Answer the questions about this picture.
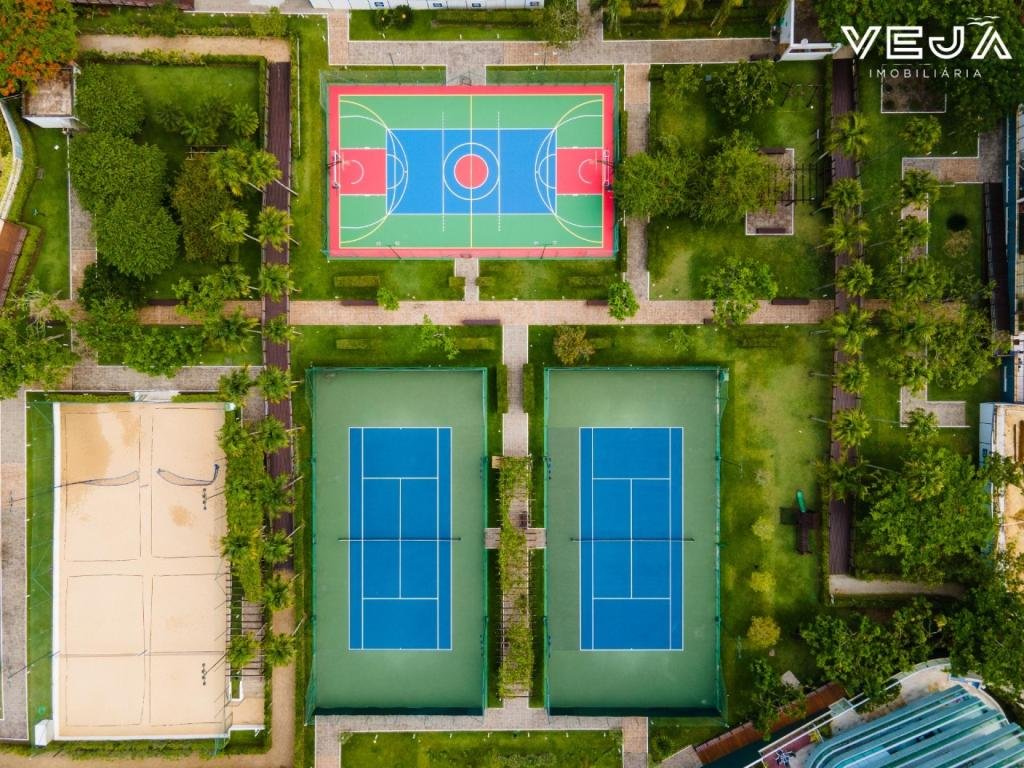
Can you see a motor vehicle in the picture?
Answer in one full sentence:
No, no motor vehicle is visible in the view.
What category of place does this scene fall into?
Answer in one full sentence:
This looks like a sports ground.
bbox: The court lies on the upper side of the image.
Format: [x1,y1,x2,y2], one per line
[329,85,614,258]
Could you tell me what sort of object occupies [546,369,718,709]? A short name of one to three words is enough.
tennis court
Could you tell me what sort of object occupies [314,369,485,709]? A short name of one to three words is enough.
tennis court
